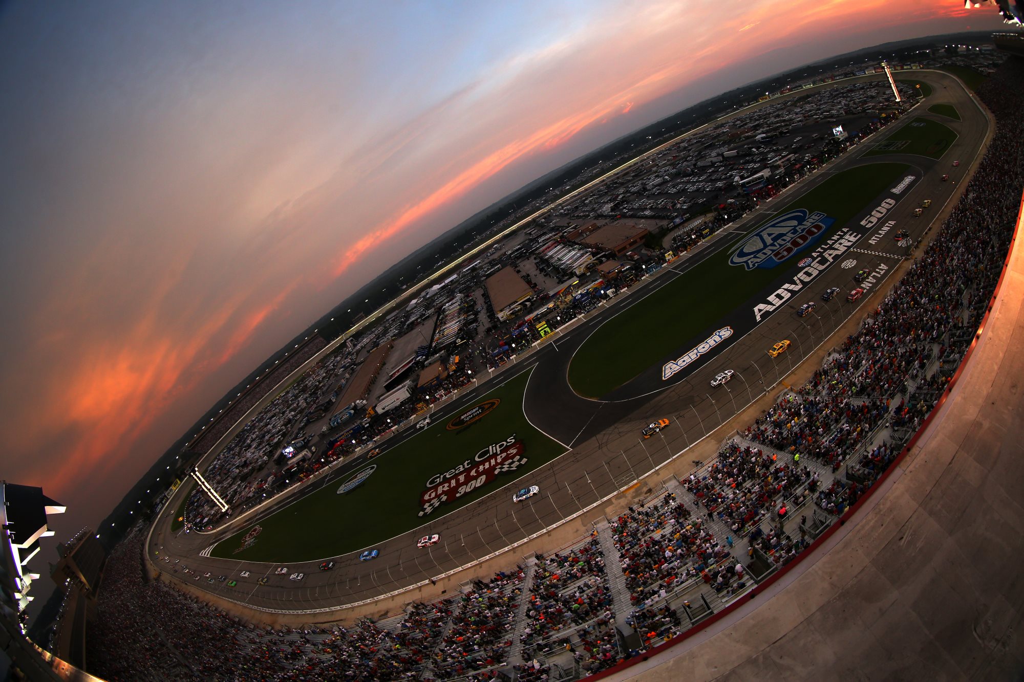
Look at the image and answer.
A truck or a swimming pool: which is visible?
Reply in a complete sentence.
The image shows a truck.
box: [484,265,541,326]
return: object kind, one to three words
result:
building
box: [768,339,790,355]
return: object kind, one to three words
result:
car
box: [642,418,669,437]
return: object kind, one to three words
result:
car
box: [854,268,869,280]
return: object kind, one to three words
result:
vehicle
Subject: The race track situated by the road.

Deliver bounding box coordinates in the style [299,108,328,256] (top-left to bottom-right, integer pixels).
[145,70,987,610]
